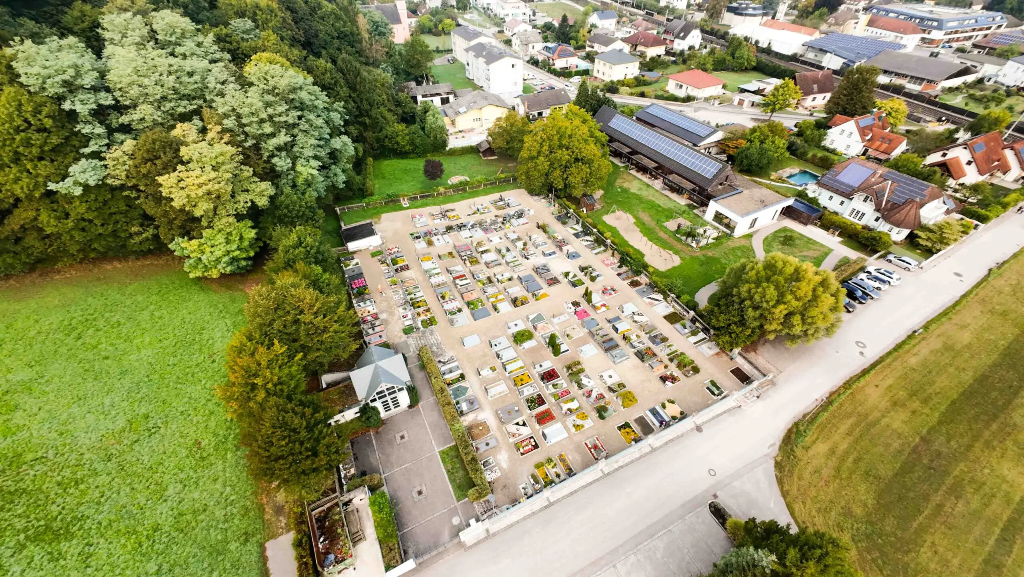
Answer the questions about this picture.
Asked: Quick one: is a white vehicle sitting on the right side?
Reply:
Yes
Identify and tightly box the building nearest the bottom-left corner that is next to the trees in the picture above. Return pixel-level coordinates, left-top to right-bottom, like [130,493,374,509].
[351,345,409,418]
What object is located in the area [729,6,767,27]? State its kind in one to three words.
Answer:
building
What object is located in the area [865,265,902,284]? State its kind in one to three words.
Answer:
car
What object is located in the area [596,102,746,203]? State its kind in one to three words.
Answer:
building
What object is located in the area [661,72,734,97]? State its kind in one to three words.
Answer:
house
